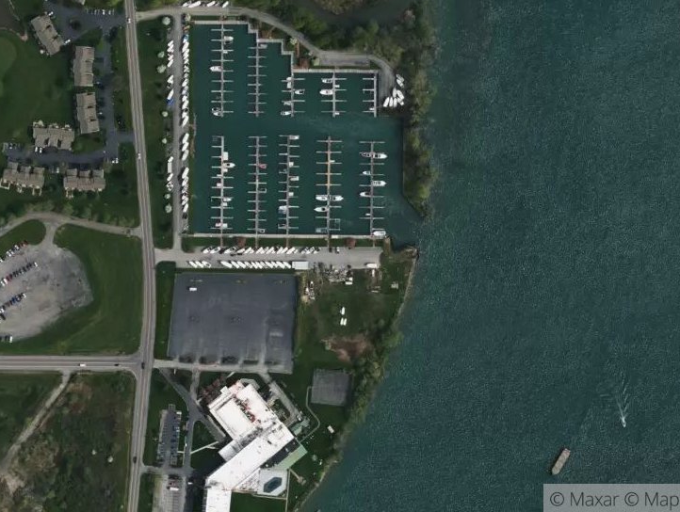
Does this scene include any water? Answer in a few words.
Yes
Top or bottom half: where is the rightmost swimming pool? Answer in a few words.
bottom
